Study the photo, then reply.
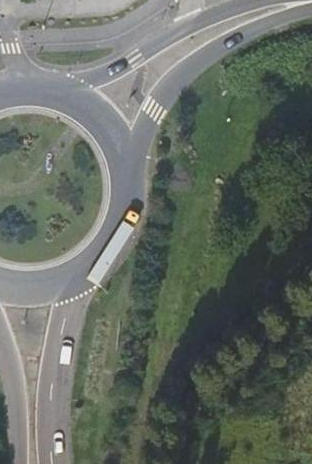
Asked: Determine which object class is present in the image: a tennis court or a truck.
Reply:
truck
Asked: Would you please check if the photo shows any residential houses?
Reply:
No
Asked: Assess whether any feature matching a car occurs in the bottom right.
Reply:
No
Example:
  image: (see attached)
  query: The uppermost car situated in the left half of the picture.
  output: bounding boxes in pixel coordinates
[107,58,128,75]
